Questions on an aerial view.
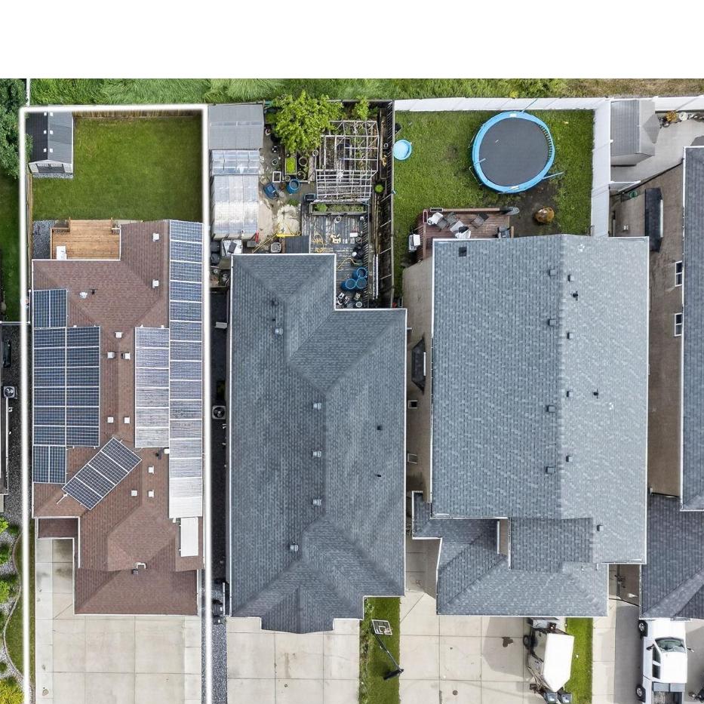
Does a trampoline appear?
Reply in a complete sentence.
Yes, there's a trampoline here.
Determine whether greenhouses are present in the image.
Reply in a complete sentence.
Yes, there's a greenhouse here.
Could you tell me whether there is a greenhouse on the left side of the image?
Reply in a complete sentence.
Yes, looking on the left side of the image, one can make out a greenhouse.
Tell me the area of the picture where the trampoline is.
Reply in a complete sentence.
The trampoline is in the top right part of the image.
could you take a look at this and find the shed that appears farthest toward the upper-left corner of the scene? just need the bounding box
[27,108,73,175]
